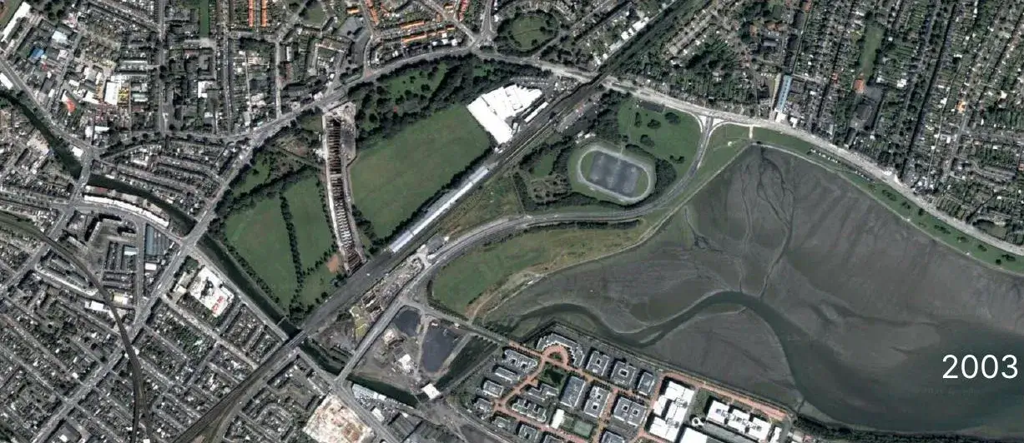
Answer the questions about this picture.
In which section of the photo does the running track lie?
center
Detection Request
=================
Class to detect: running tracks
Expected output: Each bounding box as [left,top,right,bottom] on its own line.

[575,144,657,205]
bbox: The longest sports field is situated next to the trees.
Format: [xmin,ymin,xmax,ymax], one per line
[350,103,491,250]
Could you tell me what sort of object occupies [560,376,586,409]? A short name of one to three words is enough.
building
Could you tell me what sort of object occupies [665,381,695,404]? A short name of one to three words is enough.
building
